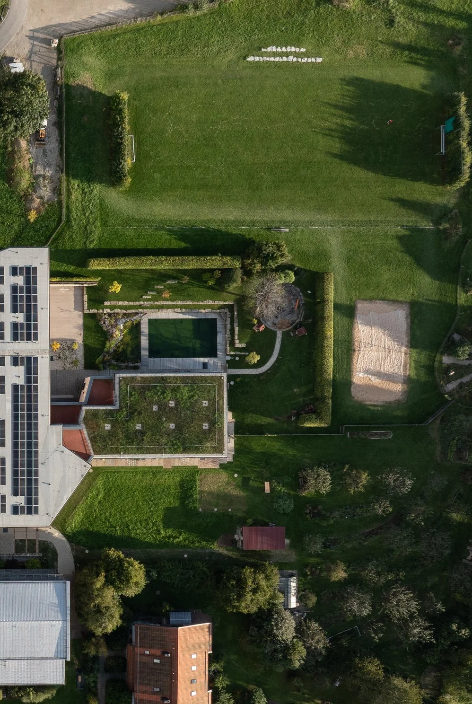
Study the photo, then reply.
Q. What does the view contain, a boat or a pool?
pool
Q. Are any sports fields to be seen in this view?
Yes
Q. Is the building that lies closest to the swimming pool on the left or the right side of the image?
left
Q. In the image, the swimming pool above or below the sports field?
below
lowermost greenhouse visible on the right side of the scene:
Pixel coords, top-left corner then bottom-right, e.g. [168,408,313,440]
[278,577,301,609]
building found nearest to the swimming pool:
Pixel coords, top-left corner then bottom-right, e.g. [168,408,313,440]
[51,373,228,464]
